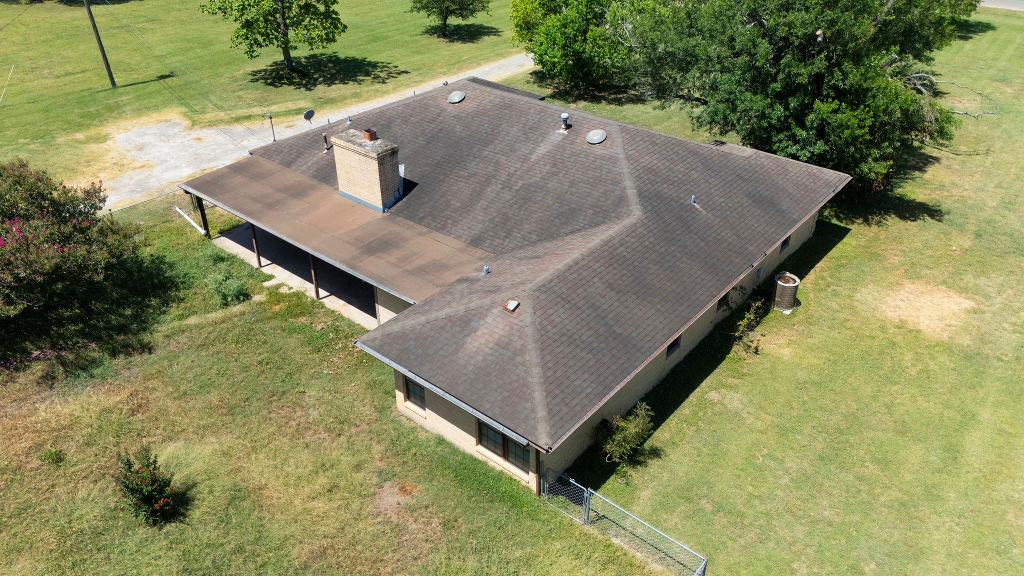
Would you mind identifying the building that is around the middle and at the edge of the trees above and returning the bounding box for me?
[176,80,855,501]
